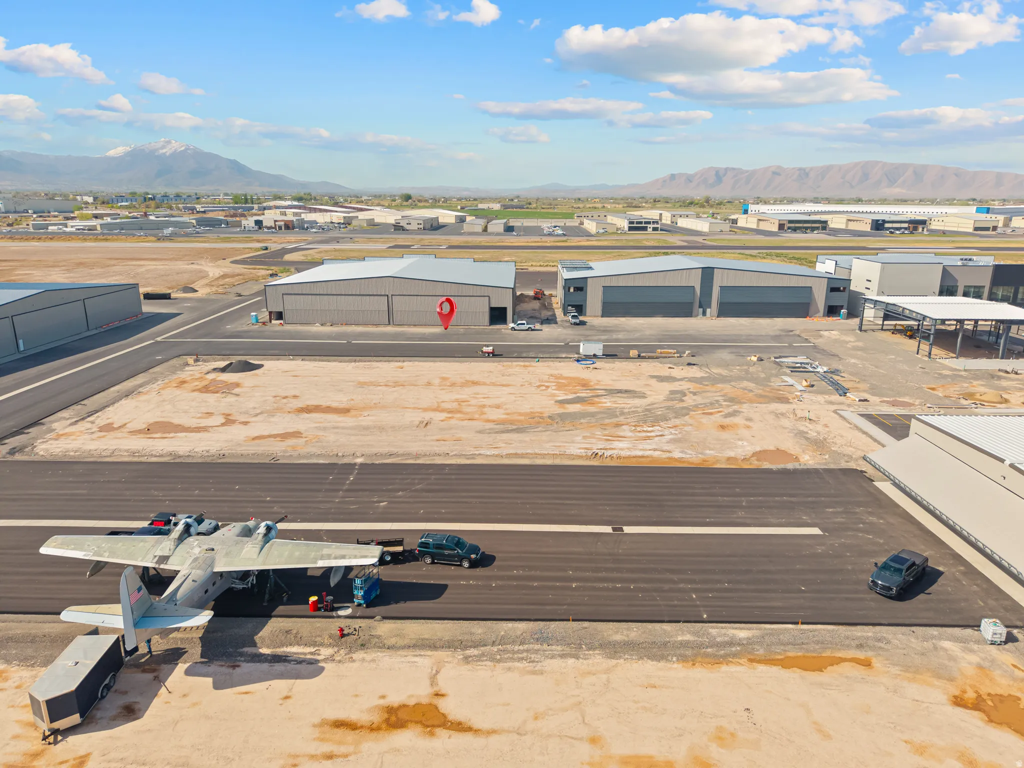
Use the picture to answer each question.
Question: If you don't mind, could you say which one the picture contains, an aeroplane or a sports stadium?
aeroplane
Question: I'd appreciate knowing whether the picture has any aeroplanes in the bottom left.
Yes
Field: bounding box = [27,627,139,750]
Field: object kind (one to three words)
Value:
trailer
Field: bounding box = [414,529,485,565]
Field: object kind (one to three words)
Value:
car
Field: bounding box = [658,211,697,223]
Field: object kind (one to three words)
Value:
hangar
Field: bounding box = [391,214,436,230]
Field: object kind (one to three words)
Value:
hangar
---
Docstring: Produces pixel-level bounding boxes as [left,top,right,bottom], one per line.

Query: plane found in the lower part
[39,514,384,653]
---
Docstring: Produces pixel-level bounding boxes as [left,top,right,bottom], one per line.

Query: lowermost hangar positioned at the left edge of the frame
[0,282,142,363]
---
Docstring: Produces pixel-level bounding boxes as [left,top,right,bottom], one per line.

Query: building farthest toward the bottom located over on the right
[862,408,1024,586]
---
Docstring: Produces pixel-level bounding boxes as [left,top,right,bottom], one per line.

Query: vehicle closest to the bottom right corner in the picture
[872,546,933,594]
